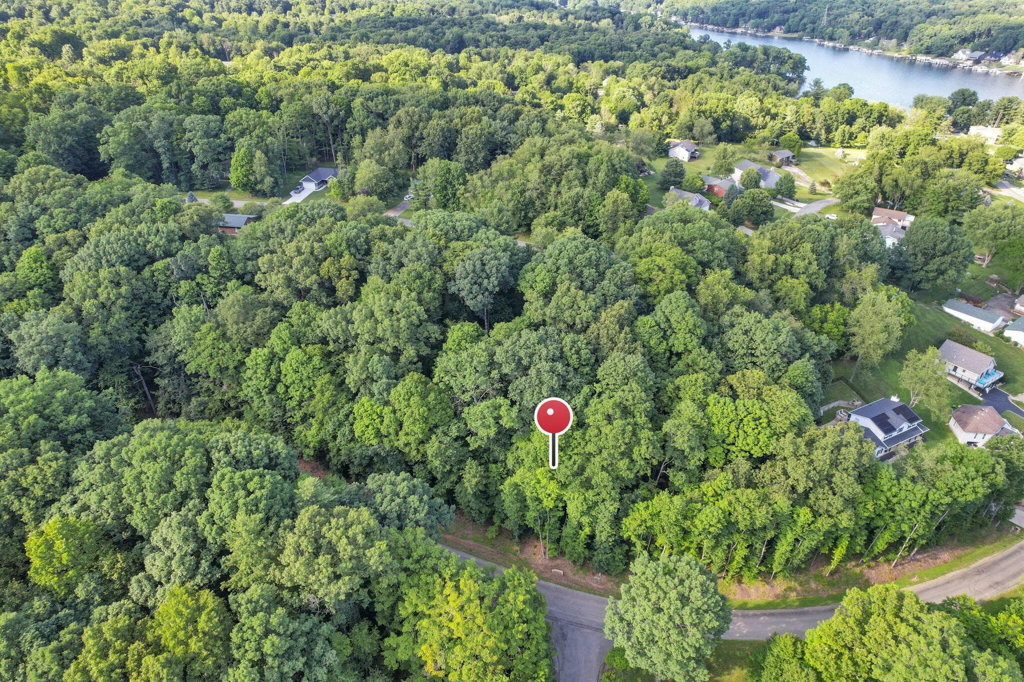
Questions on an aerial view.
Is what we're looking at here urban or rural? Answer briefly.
rural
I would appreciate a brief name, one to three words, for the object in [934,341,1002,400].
house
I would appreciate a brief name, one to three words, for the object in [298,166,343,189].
house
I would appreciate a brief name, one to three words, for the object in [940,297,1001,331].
building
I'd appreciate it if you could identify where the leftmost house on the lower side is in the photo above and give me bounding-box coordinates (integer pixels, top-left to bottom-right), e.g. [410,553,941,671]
[847,394,935,468]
